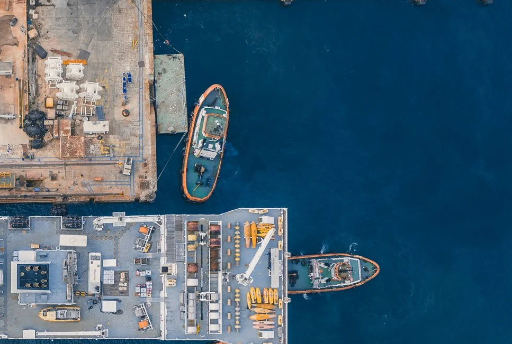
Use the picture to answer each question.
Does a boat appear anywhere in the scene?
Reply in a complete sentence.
Yes, there's a boat here.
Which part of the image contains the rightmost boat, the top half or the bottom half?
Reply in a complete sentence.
Seen from above, the rightmost boat lies in the bottom half of the view.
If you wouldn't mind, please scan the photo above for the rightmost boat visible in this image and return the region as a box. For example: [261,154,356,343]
[290,250,386,296]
